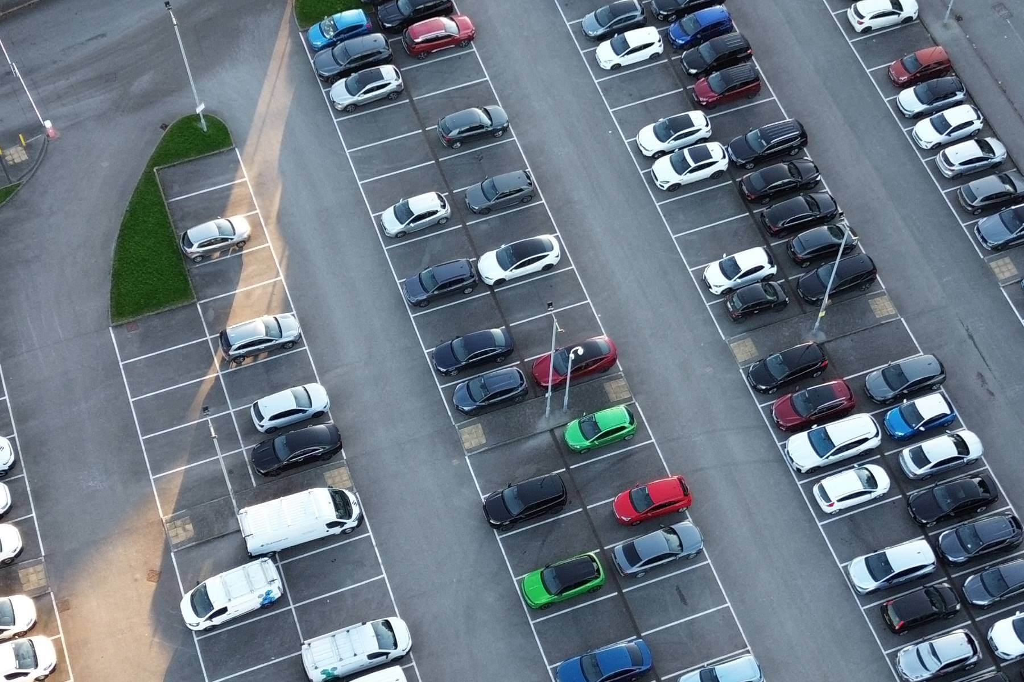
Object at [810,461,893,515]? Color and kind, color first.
white car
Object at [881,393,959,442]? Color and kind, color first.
blue car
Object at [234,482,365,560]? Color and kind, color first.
white van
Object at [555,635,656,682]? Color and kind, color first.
blue car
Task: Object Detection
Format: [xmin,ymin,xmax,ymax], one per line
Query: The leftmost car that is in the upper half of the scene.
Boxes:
[178,216,252,261]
